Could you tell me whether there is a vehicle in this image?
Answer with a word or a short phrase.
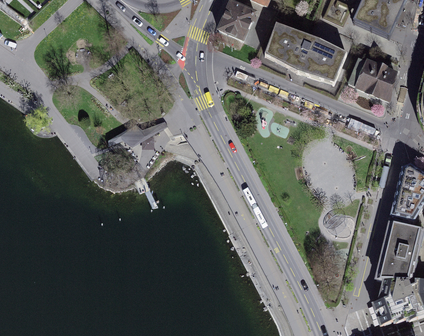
Yes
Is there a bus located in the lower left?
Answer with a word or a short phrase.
No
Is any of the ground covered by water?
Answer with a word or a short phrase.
Yes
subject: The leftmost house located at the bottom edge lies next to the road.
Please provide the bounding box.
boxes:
[368,298,393,328]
